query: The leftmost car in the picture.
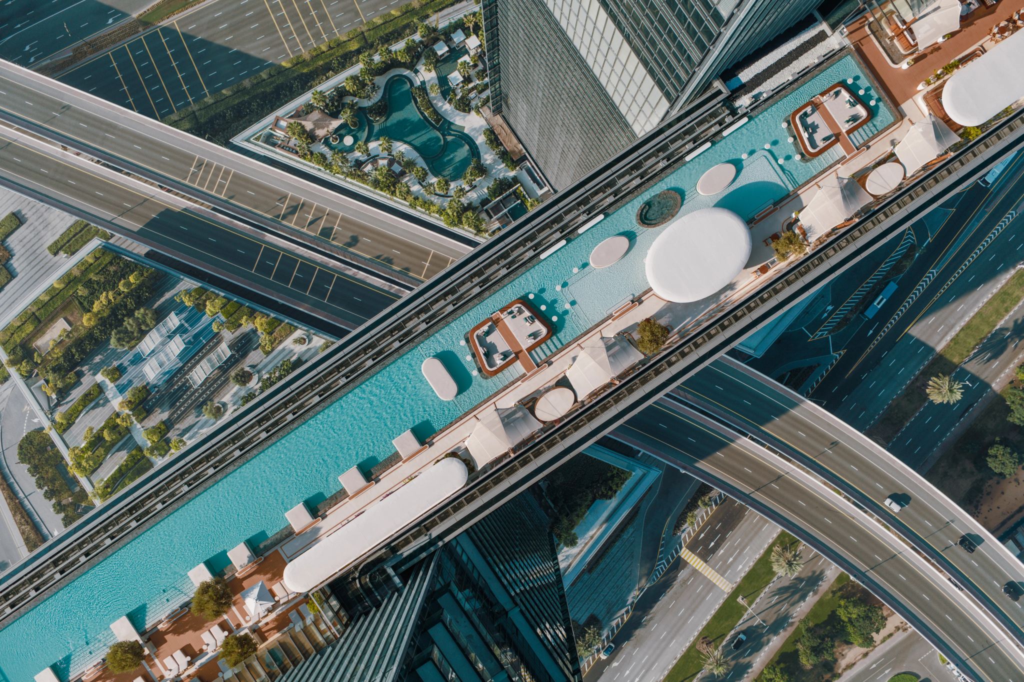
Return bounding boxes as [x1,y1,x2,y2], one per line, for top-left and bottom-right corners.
[600,641,615,659]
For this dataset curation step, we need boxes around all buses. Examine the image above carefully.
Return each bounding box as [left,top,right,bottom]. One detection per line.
[977,151,1020,188]
[860,281,898,321]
